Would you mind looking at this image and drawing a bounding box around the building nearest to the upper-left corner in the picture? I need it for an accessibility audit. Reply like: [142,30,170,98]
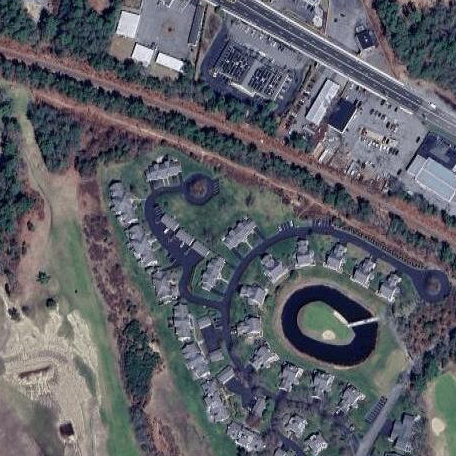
[115,11,140,39]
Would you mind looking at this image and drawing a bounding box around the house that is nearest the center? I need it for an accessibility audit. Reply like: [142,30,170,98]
[222,217,258,251]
